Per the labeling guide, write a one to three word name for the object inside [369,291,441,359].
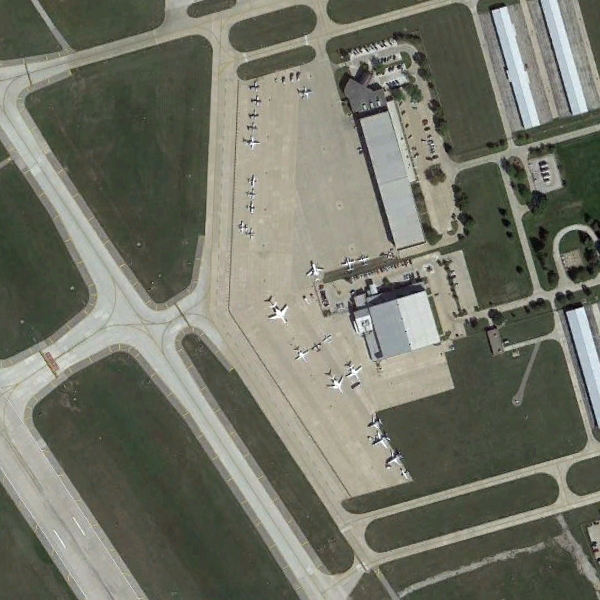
hangar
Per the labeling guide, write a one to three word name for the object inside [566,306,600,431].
hangar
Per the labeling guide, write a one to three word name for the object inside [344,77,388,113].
building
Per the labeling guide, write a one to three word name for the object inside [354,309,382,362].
building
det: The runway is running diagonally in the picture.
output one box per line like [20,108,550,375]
[0,386,141,600]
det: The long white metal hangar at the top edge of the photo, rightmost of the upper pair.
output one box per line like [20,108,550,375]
[541,0,589,115]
